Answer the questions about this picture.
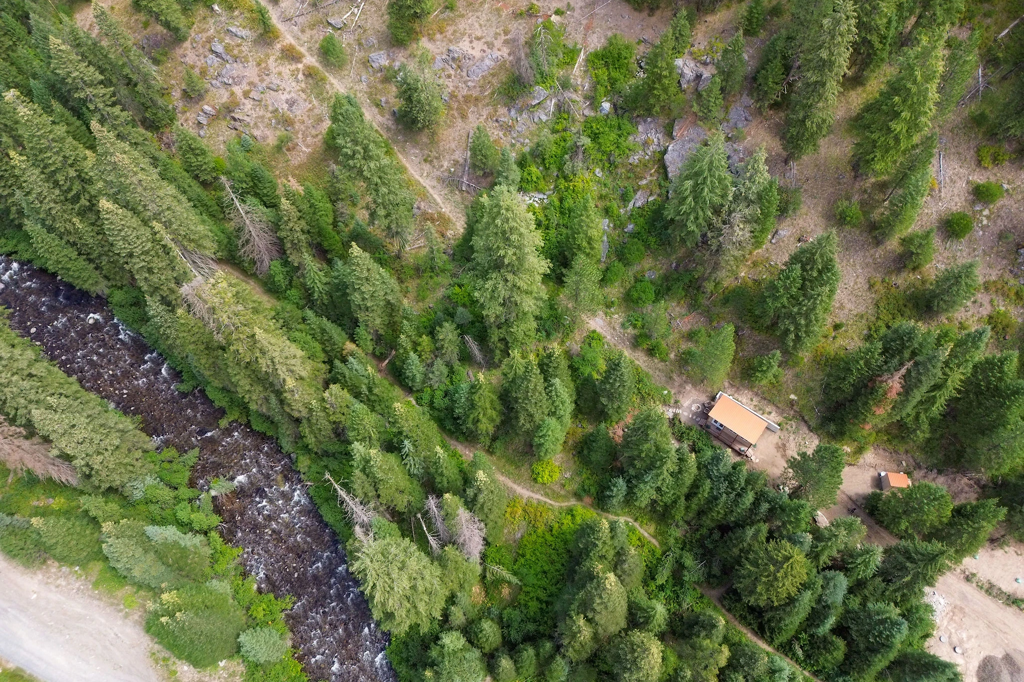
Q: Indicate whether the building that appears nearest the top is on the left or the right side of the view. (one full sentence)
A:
You can find the building that appears nearest the top on the right side of the picture.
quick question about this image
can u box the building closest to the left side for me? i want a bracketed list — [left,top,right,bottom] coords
[698,395,767,460]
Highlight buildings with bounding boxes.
[878,470,907,491]
[698,395,767,460]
